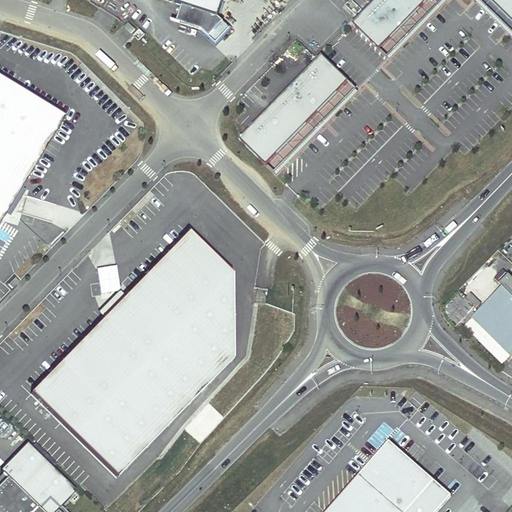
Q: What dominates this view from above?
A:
paved ground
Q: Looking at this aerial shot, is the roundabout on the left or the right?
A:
right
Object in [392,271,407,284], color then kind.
white vehicle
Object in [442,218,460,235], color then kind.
white vehicle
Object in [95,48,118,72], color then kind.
white truck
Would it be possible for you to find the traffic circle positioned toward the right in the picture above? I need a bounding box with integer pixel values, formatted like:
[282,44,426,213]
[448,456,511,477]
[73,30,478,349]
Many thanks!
[285,244,466,384]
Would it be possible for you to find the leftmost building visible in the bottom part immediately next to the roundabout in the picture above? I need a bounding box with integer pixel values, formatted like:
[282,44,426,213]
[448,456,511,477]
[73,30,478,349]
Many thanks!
[34,229,236,476]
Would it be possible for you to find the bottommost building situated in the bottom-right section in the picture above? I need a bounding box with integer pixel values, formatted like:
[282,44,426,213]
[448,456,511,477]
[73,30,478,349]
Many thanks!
[323,439,452,512]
